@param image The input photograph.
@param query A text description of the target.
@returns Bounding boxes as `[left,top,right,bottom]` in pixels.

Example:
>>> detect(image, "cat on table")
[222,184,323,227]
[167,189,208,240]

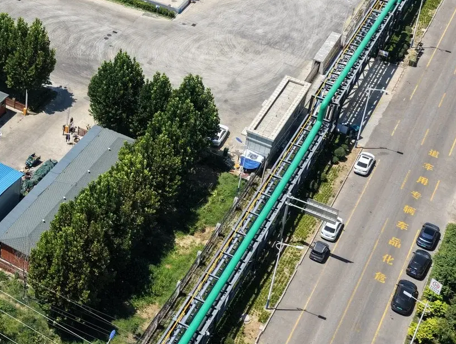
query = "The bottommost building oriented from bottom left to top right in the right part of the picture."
[238,74,317,169]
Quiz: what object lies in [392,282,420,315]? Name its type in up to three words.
car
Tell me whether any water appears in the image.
No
